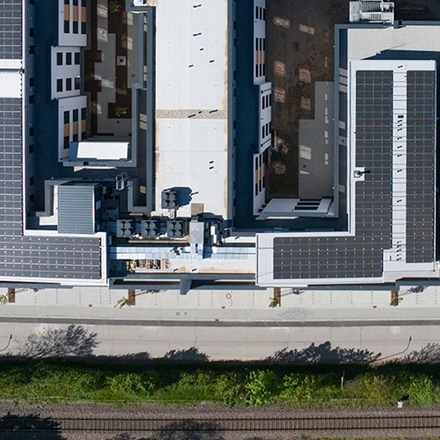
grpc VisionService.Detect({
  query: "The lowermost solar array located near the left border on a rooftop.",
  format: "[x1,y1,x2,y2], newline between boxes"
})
[0,98,105,278]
